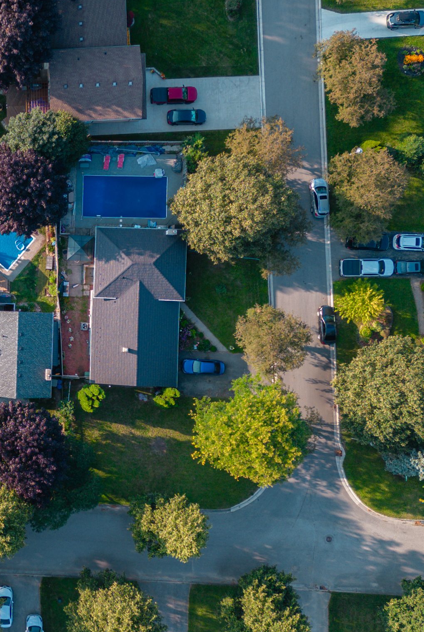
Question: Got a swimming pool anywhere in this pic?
Yes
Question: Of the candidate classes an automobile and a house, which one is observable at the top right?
automobile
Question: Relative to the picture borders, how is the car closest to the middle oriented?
from left to right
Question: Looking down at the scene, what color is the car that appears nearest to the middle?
blue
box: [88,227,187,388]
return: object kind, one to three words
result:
house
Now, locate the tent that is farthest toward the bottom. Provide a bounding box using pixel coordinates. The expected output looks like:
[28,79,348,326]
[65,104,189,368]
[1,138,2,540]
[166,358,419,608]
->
[66,235,93,261]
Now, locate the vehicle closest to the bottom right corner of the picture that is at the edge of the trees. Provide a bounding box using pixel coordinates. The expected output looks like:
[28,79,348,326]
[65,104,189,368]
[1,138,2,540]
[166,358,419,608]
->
[315,305,338,345]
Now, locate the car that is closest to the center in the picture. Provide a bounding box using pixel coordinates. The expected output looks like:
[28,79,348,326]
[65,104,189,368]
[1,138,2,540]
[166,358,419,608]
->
[181,357,225,377]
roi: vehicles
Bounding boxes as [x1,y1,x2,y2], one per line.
[148,83,197,106]
[383,8,424,31]
[391,232,424,253]
[338,256,394,278]
[0,584,15,628]
[181,357,225,377]
[165,107,206,127]
[344,234,388,252]
[394,257,424,277]
[315,305,338,345]
[24,612,45,632]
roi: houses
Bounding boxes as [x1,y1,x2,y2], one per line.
[38,0,144,124]
[0,306,55,400]
[88,227,187,388]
